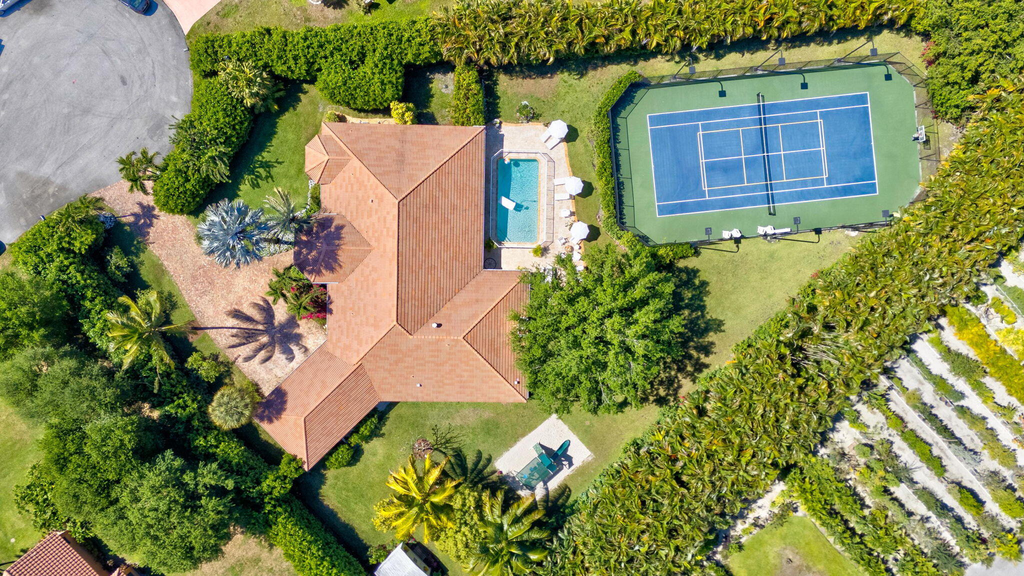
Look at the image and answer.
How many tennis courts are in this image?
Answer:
1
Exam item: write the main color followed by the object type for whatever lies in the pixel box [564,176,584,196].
white umbrella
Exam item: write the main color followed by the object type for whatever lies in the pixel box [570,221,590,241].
white umbrella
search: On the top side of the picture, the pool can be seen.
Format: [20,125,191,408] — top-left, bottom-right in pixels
[497,157,539,246]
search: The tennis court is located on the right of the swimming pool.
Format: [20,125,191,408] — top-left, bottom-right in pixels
[606,61,922,248]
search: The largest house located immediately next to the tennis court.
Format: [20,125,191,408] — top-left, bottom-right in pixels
[253,122,530,472]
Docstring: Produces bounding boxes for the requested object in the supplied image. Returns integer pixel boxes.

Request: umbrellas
[570,221,590,241]
[547,120,567,140]
[564,176,584,196]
